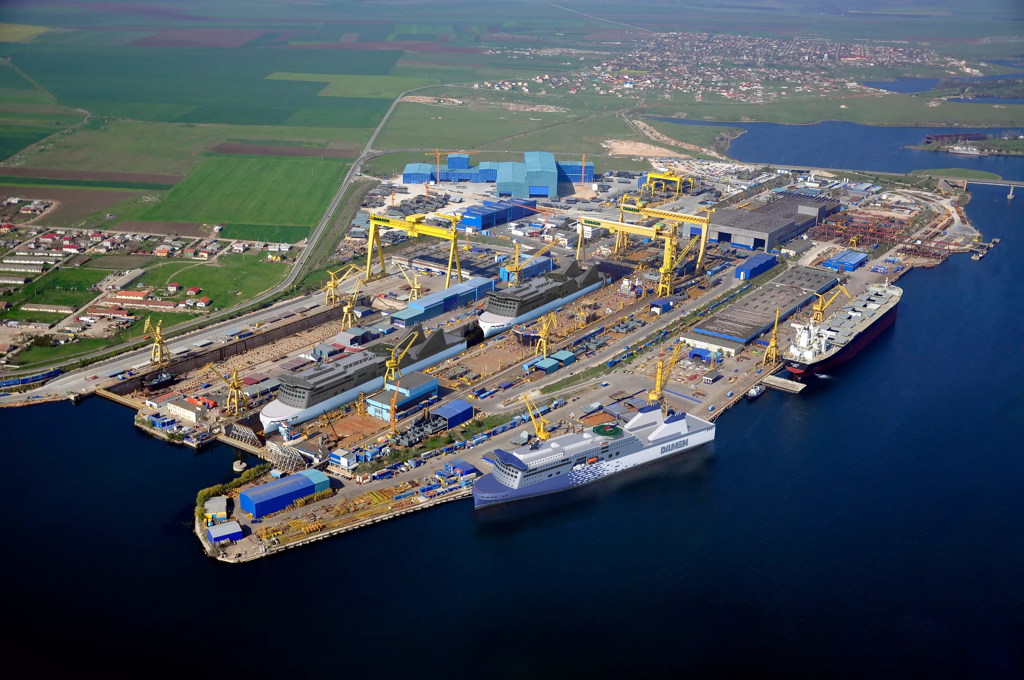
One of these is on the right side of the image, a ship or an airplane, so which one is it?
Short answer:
ship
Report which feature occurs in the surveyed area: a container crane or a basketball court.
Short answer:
container crane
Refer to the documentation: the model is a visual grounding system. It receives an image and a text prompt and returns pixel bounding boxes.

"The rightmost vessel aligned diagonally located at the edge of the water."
[786,274,904,378]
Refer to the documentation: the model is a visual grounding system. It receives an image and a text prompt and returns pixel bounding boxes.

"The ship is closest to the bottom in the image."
[472,402,716,505]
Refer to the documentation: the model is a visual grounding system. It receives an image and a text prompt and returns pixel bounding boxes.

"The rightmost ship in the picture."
[945,144,988,156]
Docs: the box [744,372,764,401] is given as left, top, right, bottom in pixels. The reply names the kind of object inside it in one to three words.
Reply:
boat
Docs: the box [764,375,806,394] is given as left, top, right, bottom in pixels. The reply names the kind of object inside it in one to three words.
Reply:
pier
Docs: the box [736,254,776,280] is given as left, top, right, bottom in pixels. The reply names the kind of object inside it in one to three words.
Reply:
building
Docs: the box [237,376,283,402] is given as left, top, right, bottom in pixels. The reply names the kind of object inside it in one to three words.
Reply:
shed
